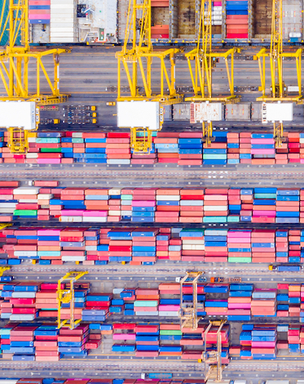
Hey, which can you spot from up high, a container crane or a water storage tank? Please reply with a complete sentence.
Of the two, only a container crane appears.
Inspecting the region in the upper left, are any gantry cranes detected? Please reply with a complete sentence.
Yes, the scene does show a gantry crane in the upper left.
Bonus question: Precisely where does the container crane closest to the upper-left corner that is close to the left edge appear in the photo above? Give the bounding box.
[0,0,70,155]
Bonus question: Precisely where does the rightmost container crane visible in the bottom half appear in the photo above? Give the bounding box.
[202,317,229,383]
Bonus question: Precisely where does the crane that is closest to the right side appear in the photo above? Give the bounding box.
[254,0,304,150]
